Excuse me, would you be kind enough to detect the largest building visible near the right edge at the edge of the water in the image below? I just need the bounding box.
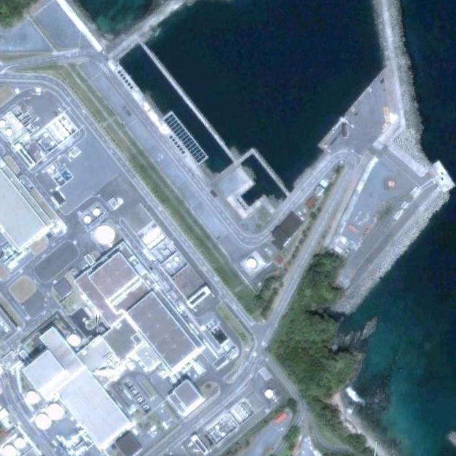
[432,162,455,194]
